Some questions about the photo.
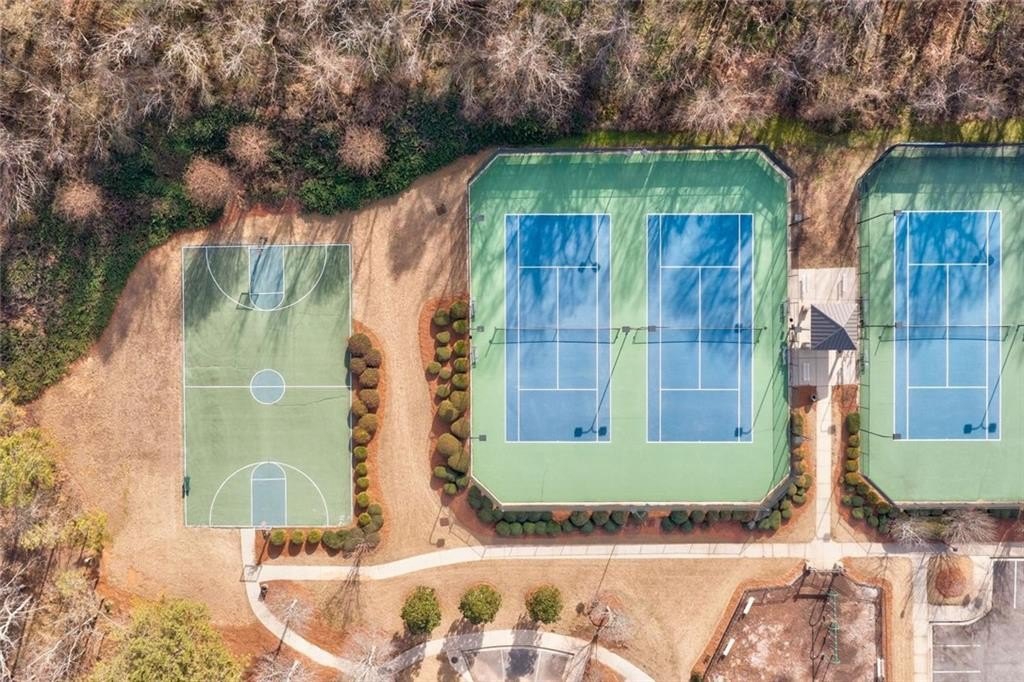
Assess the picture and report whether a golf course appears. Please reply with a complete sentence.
No, I can see no golf course in this picture.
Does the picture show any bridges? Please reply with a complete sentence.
No, there appears to be no bridge in this shot.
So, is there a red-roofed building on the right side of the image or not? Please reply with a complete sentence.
No, on the right side of the image there is no red-roofed building.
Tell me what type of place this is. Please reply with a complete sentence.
This looks like a sports ground.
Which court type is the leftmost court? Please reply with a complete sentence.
Looking closely, the leftmost court is a basketball court.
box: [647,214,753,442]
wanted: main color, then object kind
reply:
blue tennis court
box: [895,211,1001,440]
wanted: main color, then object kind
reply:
blue tennis court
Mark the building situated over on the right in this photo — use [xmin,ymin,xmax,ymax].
[805,304,858,350]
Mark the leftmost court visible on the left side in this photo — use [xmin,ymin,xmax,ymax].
[182,244,353,527]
